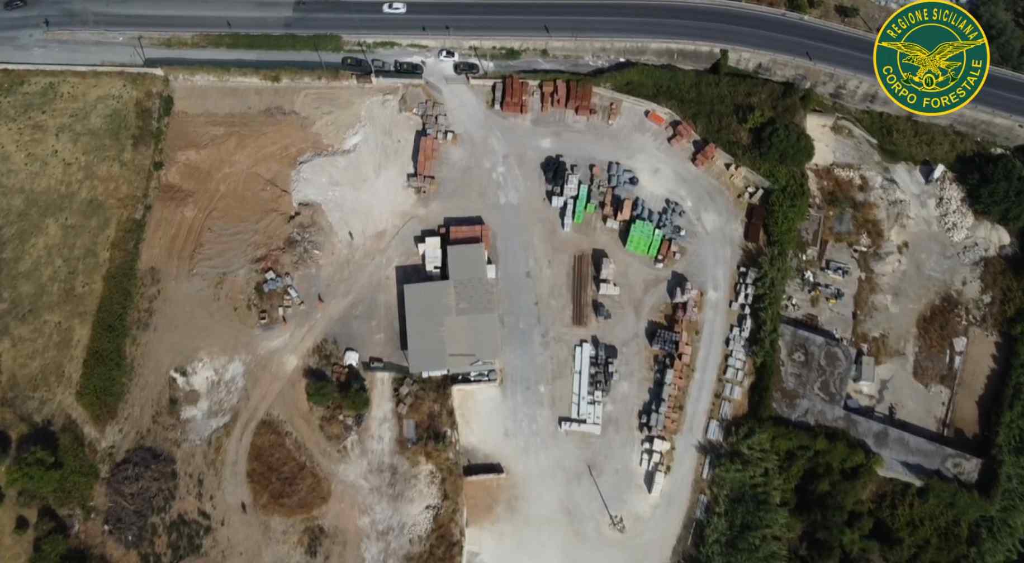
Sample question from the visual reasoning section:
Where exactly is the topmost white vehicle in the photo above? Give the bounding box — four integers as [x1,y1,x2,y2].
[383,1,407,14]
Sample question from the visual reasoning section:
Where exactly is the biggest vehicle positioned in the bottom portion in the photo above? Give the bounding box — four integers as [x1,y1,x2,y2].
[343,348,358,367]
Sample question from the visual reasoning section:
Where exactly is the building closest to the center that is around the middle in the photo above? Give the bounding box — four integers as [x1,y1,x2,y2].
[403,243,498,374]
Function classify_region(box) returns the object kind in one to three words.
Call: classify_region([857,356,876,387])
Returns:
shed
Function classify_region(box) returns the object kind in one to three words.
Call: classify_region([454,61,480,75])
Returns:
vehicle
